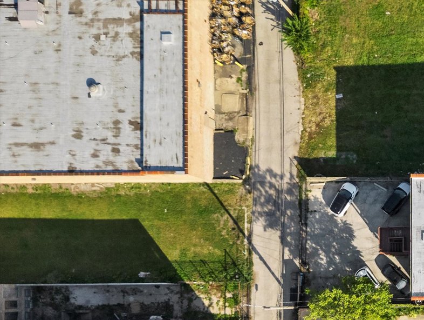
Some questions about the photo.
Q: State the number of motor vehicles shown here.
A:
4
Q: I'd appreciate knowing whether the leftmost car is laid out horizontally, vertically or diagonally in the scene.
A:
diagonally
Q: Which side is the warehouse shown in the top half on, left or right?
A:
left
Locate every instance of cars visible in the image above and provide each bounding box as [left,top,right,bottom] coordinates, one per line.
[380,179,411,218]
[329,180,360,218]
[352,259,386,296]
[376,256,410,293]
